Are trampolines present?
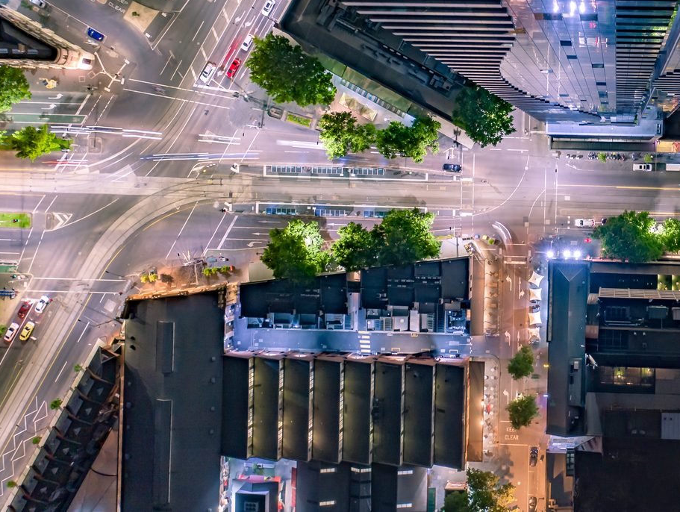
No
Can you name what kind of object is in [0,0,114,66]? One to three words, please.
building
